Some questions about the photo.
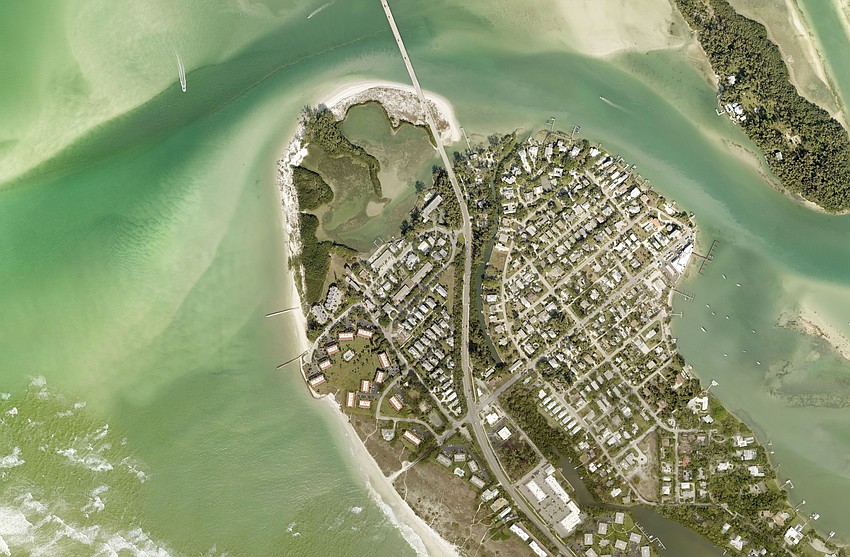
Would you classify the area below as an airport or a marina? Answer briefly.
marina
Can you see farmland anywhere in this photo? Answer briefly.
No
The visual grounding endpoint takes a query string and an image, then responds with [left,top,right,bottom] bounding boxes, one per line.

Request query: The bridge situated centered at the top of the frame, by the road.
[381,0,446,152]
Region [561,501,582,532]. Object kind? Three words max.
building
